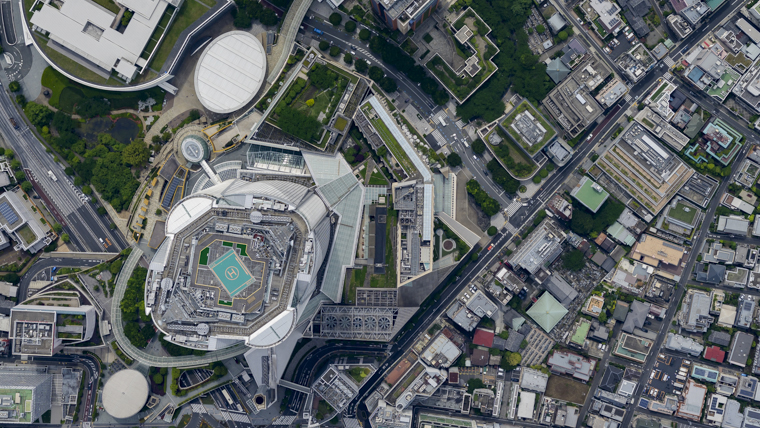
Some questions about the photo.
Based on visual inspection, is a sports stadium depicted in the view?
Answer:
Yes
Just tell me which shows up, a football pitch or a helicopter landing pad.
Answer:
helicopter landing pad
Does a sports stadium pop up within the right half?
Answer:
No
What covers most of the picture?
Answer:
buildings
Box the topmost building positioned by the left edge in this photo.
[20,0,234,94]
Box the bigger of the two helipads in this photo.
[191,233,269,314]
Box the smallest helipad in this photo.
[209,250,255,296]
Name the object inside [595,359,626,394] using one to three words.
house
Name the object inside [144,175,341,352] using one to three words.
building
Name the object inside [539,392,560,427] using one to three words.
house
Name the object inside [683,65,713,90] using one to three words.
building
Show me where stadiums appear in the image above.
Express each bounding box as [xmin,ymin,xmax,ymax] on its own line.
[193,30,267,113]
